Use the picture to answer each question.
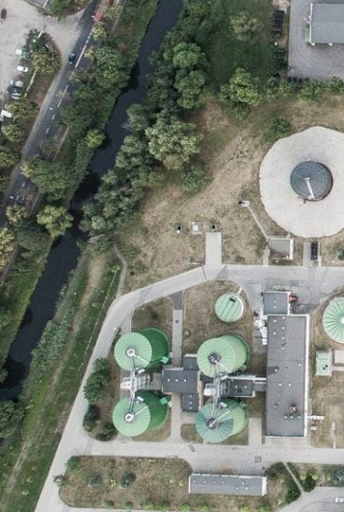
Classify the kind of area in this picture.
industrial area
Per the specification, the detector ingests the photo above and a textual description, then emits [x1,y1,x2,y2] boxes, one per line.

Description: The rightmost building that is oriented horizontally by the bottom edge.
[190,471,270,496]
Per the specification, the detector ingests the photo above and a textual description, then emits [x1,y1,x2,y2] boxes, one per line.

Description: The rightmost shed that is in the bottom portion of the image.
[316,350,331,376]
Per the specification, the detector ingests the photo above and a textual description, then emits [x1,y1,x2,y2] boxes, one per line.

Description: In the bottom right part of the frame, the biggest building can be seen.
[266,315,324,437]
